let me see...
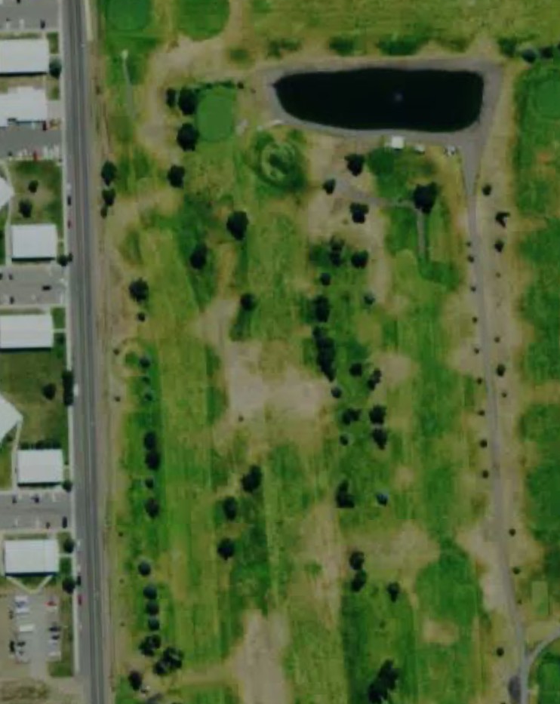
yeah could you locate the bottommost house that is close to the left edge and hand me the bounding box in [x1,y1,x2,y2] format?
[5,539,58,573]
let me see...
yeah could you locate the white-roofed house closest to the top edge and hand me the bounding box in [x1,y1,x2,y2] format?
[0,38,47,71]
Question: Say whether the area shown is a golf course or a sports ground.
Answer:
golf course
